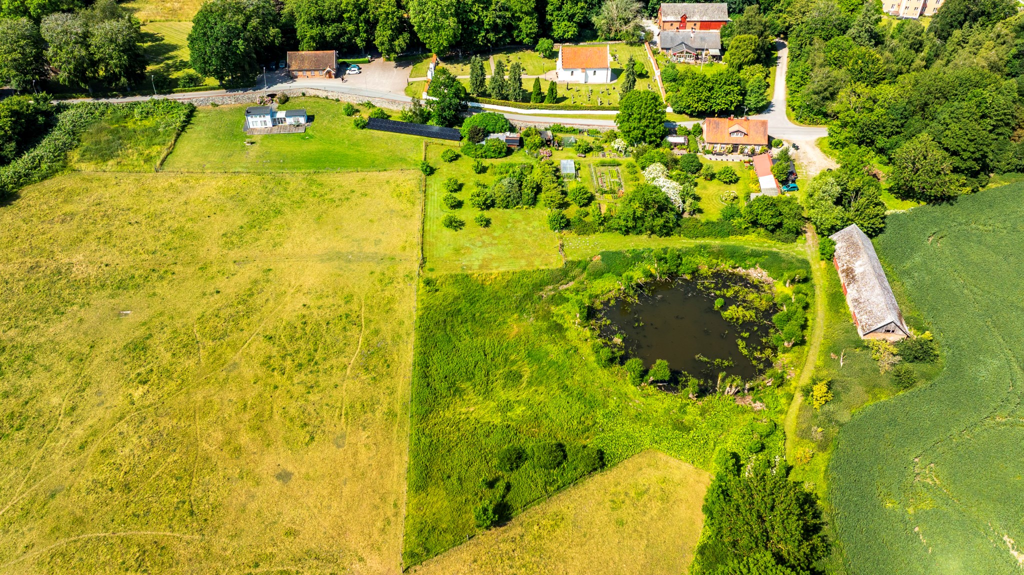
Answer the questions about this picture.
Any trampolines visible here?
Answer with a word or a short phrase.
No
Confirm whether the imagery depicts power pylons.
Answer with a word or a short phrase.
No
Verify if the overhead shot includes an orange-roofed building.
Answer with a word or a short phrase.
Yes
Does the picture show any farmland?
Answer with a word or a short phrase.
Yes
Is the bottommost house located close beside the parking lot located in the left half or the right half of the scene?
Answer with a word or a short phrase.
left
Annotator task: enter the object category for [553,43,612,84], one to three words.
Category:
building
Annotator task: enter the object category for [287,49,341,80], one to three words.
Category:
building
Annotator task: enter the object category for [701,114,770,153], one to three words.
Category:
house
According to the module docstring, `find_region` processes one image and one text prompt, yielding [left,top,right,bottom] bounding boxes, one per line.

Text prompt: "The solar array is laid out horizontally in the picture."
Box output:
[365,115,464,142]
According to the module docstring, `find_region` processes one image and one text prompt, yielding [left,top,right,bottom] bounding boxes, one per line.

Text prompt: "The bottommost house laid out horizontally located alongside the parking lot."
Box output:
[245,104,307,127]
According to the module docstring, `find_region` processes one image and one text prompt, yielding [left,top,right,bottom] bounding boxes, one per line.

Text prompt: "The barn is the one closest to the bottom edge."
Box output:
[829,222,911,342]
